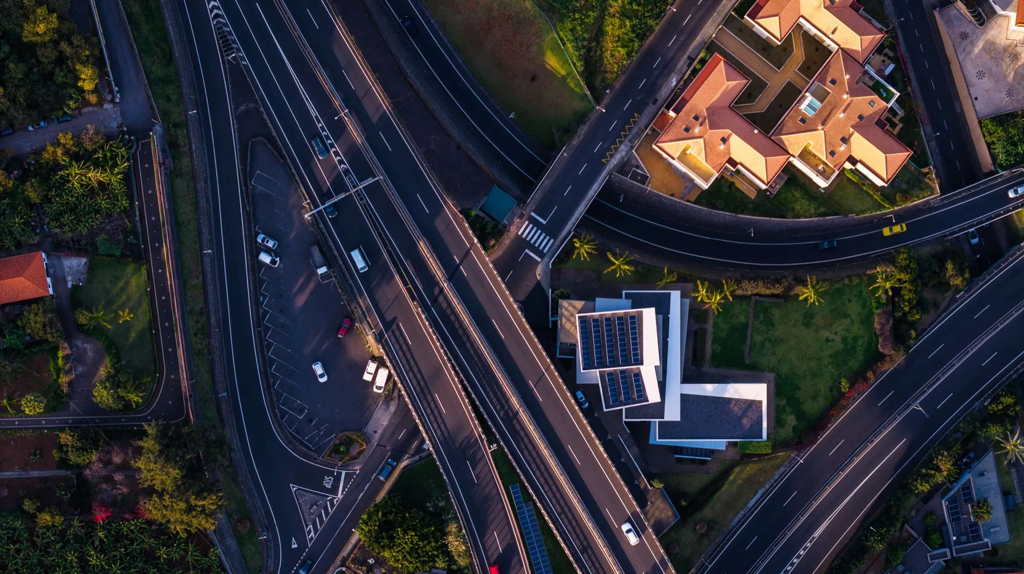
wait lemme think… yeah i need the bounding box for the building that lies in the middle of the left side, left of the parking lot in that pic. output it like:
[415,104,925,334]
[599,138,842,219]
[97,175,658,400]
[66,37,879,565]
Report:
[0,250,64,306]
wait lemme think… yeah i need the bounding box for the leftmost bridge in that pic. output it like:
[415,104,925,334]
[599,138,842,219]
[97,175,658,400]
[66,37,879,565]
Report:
[209,0,529,574]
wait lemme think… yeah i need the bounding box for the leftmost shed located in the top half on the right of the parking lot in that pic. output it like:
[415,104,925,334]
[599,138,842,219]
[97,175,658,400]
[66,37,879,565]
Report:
[483,185,517,222]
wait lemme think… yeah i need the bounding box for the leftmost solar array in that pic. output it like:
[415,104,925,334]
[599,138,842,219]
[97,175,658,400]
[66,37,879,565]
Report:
[509,485,551,574]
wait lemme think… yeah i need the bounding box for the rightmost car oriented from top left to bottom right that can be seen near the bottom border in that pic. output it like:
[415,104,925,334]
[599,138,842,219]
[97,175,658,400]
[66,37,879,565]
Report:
[620,521,642,549]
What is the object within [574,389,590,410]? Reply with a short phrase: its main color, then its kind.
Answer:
blue car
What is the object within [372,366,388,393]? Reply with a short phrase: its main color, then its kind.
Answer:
white vehicle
